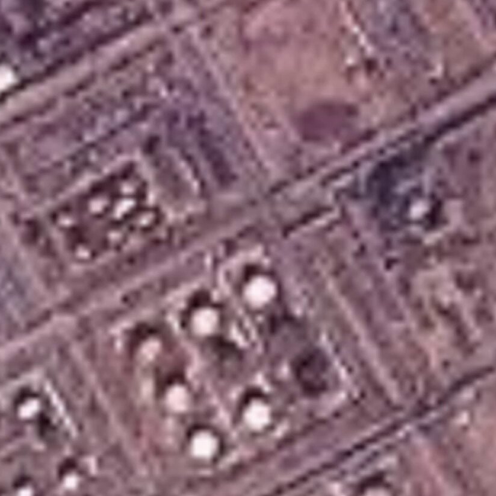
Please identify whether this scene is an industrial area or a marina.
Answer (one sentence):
The picture captures an industrial area.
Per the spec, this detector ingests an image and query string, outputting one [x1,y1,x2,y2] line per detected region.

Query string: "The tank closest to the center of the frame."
[237,269,281,312]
